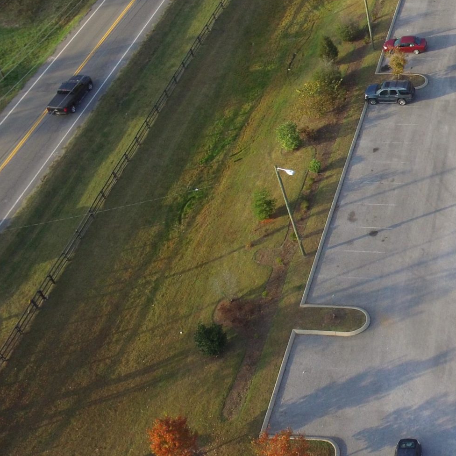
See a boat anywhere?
No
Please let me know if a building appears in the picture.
No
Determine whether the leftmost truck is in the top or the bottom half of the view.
top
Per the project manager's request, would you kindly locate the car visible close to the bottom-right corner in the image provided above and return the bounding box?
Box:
[392,440,422,456]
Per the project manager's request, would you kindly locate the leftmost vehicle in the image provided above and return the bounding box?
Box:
[53,70,98,110]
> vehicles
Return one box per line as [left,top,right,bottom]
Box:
[392,440,422,456]
[53,70,98,110]
[385,35,429,54]
[365,80,419,104]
